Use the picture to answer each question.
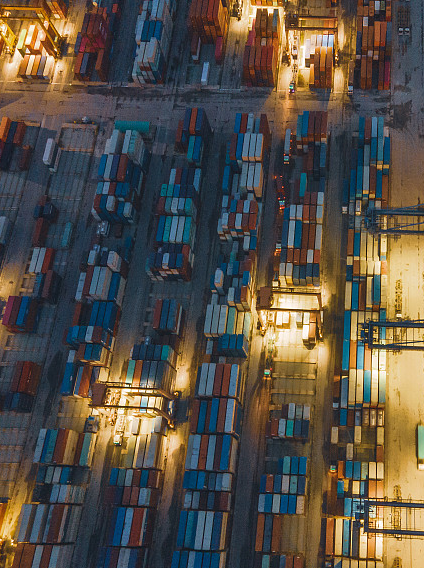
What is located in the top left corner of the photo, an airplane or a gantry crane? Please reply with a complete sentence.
It is a gantry crane that can be seen in the top left corner of the photo.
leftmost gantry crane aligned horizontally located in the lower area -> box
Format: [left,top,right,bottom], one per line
[86,381,180,425]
